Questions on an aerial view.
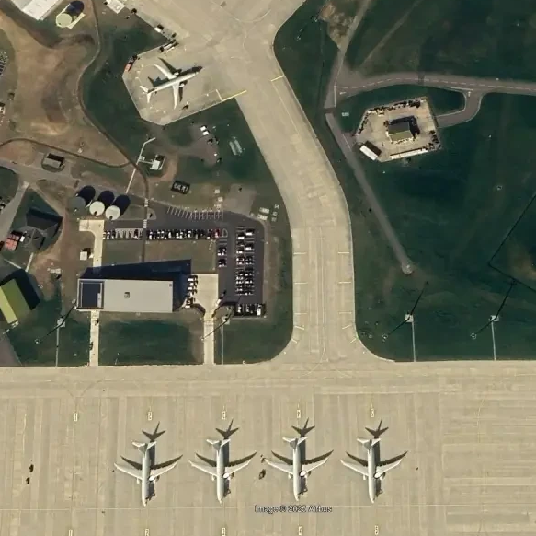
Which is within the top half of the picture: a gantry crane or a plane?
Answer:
plane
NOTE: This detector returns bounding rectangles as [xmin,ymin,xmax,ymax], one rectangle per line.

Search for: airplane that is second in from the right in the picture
[265,435,329,500]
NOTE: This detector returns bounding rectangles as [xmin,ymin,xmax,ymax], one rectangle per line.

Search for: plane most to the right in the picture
[338,436,404,501]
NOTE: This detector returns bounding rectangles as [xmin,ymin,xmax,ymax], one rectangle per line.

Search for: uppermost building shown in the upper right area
[388,118,416,141]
